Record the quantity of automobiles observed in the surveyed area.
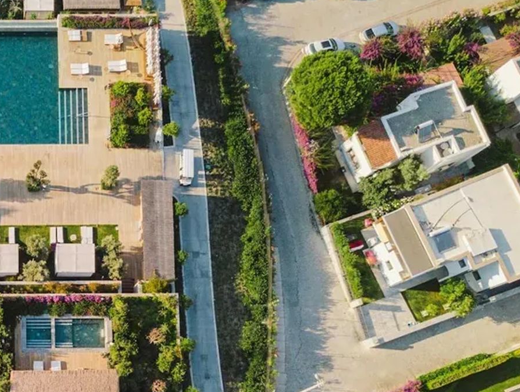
two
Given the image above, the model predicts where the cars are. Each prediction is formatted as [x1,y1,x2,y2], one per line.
[303,36,341,57]
[359,20,398,44]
